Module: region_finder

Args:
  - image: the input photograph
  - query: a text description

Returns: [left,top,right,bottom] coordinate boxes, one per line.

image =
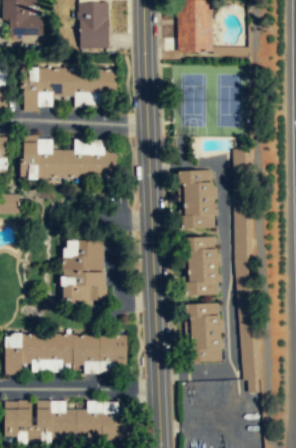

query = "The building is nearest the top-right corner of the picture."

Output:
[178,0,214,52]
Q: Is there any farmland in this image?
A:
No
